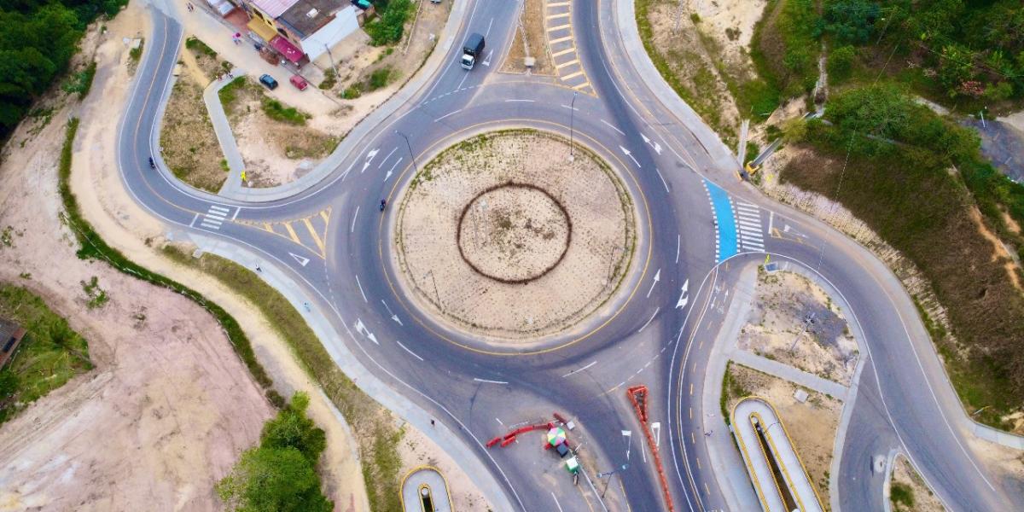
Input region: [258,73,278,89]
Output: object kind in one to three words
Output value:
car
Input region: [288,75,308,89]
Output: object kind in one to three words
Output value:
car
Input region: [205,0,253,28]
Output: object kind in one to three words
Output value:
house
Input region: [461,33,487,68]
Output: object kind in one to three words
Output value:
truck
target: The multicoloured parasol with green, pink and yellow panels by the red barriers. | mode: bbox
[547,428,565,446]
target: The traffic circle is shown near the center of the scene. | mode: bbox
[339,89,696,395]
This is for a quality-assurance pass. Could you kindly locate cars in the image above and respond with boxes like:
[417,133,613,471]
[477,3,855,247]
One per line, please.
[258,73,278,89]
[288,75,308,89]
